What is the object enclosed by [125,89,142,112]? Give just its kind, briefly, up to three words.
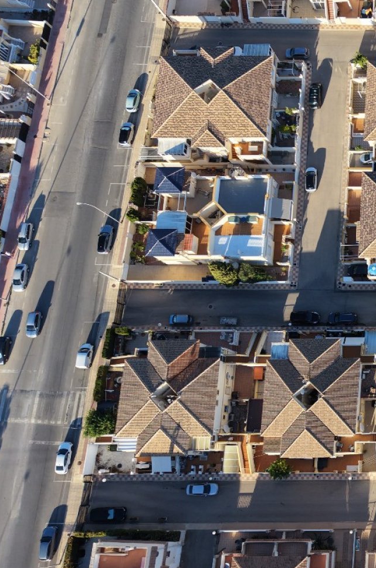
car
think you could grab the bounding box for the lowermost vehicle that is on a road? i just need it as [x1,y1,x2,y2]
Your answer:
[37,526,59,561]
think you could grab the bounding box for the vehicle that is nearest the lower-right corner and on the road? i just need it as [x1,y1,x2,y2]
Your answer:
[185,481,220,496]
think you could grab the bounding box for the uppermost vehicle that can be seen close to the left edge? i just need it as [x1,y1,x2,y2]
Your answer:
[14,221,36,251]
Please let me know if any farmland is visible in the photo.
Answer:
No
